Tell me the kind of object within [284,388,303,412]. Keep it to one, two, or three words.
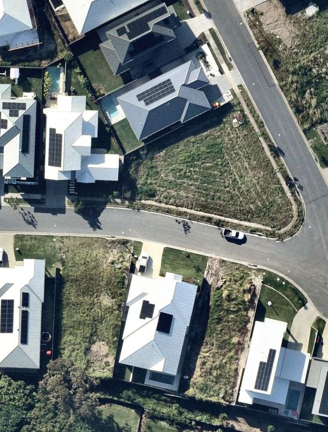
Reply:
swimming pool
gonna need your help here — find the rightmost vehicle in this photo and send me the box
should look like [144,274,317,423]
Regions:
[220,228,247,241]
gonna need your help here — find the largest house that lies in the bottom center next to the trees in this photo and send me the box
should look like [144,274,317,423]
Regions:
[119,272,197,375]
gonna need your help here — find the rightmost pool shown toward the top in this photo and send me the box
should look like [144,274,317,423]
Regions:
[100,95,120,121]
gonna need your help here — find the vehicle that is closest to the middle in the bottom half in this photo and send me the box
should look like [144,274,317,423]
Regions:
[136,251,149,275]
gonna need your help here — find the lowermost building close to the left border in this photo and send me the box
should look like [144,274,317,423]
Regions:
[0,259,46,369]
